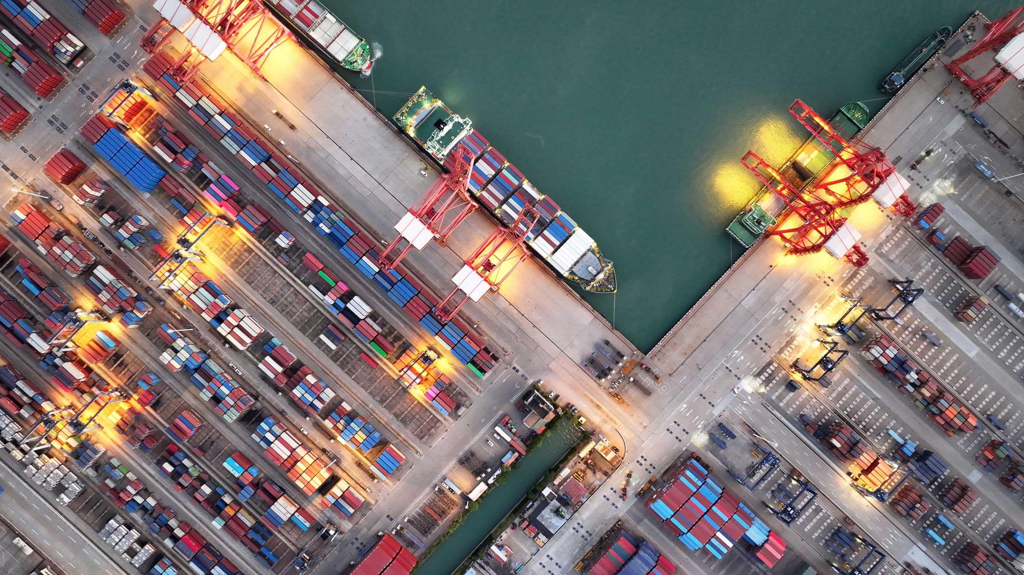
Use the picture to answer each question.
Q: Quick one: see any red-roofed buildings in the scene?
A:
Yes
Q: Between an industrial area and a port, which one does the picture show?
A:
port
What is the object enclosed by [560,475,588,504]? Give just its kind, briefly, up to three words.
building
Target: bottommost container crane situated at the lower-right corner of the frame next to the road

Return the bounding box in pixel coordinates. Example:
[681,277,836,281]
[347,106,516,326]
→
[833,536,887,575]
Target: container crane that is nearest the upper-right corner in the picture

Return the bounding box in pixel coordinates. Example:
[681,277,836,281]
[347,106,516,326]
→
[950,11,1024,108]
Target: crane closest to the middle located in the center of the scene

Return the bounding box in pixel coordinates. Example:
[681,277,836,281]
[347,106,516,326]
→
[431,197,539,323]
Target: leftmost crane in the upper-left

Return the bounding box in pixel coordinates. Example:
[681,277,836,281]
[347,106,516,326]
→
[99,77,155,128]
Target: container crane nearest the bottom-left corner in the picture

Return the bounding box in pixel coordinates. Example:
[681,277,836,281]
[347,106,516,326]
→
[24,403,76,451]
